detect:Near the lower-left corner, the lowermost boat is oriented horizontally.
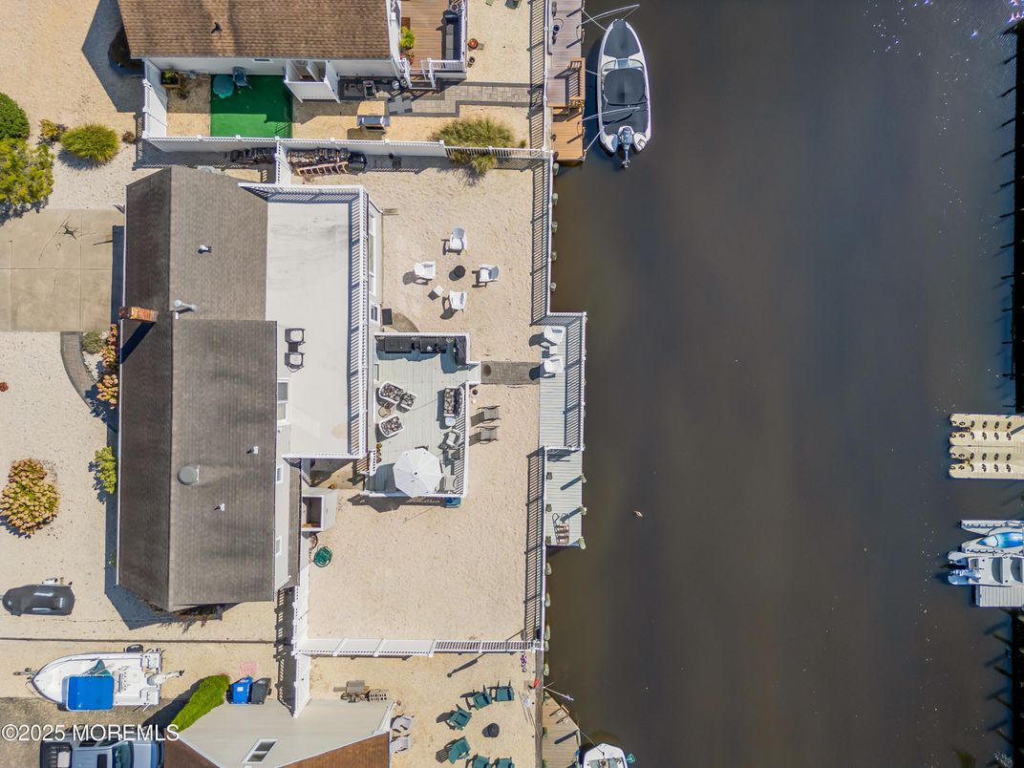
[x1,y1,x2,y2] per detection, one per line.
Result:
[29,651,177,715]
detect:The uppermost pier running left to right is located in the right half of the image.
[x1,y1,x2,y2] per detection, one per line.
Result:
[945,414,1024,445]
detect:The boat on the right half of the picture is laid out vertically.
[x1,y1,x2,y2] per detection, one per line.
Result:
[596,16,650,163]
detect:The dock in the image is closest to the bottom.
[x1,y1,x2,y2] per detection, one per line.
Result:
[542,690,579,768]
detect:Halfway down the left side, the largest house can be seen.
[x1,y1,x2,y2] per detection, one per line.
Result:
[116,167,383,610]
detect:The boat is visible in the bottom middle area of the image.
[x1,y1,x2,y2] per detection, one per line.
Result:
[585,740,630,768]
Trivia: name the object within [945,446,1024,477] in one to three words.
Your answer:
pier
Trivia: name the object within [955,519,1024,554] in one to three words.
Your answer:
pier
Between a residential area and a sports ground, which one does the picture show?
residential area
